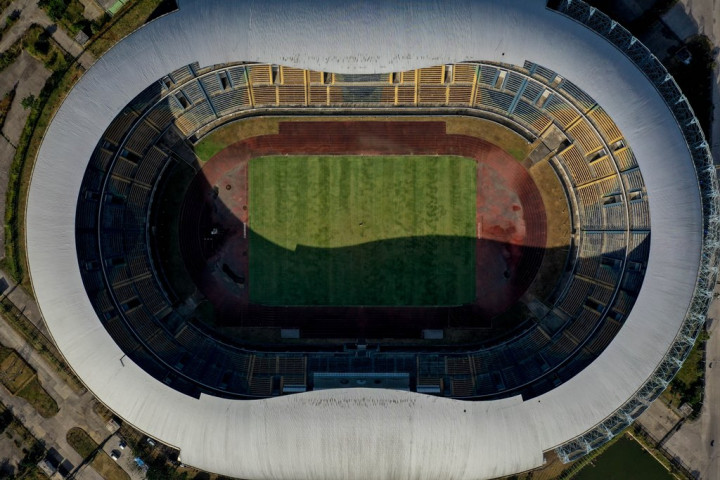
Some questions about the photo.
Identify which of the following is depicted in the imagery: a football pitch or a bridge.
football pitch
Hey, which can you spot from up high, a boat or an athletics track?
athletics track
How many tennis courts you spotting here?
0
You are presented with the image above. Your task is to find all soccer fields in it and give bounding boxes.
[248,155,476,305]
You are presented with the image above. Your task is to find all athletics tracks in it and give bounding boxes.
[179,122,546,335]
